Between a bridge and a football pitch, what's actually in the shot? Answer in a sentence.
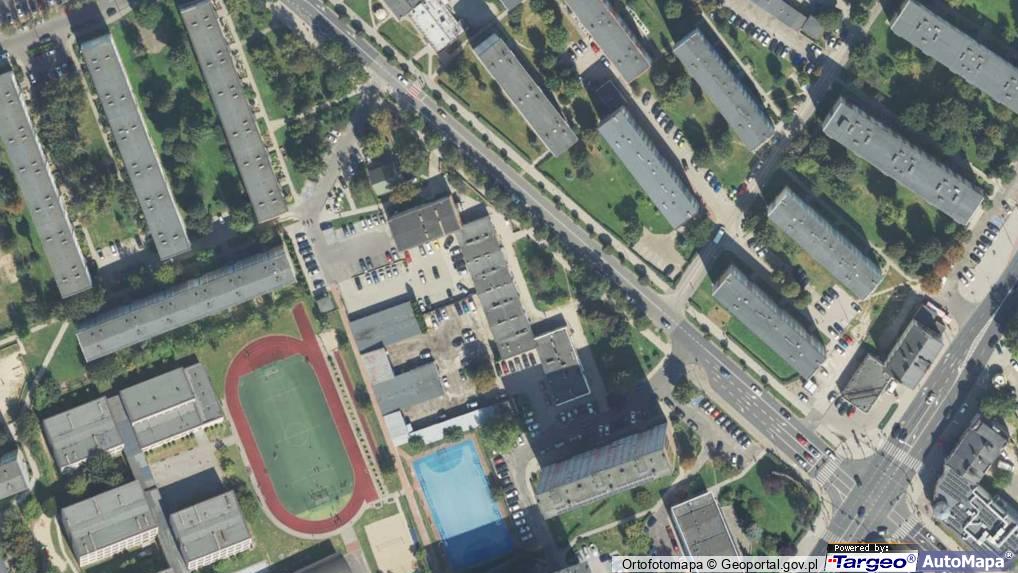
There is a football pitch in the scene.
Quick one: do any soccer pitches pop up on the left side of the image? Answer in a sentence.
Yes, a soccer pitch appears on the left side of the image.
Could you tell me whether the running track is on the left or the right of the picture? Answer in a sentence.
The running track is on the left side of the image.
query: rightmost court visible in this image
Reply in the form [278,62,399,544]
[414,440,513,571]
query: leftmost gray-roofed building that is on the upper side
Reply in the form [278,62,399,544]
[0,66,95,299]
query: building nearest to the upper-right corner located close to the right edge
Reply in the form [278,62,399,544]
[891,0,1018,112]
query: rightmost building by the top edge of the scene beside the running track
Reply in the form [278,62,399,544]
[181,0,290,224]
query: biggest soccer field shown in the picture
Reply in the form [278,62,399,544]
[236,356,356,516]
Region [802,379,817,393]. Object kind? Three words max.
vehicle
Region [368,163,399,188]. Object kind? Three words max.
shed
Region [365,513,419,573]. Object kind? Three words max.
sports court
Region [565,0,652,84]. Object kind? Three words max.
building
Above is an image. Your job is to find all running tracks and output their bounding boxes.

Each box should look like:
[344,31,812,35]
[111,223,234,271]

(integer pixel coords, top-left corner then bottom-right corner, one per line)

[225,301,378,529]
